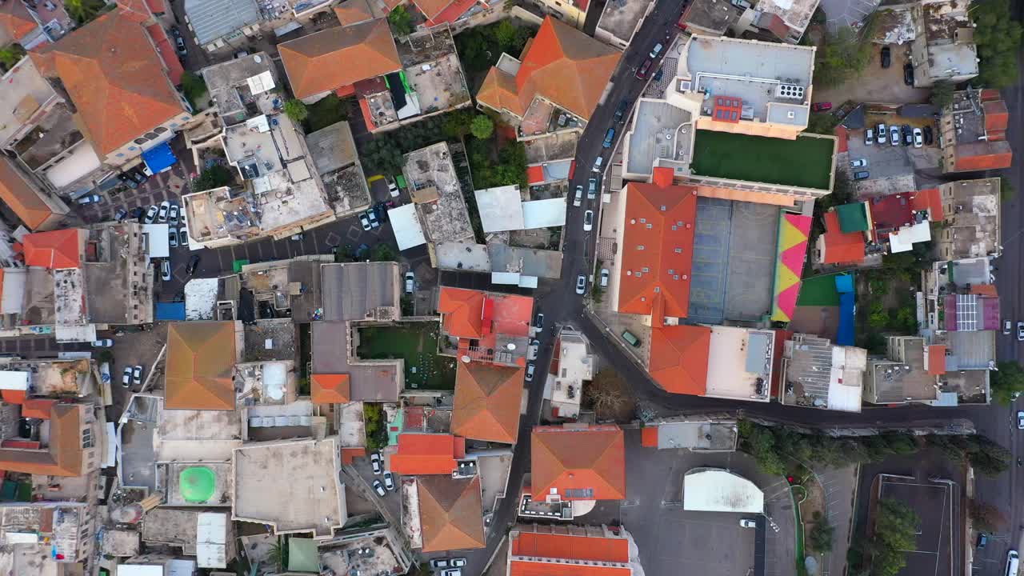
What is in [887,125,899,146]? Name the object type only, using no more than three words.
vehicle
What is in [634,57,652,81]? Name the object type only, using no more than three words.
vehicle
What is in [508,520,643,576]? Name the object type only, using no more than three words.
building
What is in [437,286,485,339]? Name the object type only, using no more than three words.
house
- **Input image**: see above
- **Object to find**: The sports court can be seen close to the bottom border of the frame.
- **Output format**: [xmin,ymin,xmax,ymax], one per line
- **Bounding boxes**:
[843,466,960,576]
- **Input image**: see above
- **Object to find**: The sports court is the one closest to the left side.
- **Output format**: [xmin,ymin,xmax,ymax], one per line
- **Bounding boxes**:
[682,196,732,323]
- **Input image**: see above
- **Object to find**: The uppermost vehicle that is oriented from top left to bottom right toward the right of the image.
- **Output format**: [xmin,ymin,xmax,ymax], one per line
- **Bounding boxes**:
[620,328,641,349]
